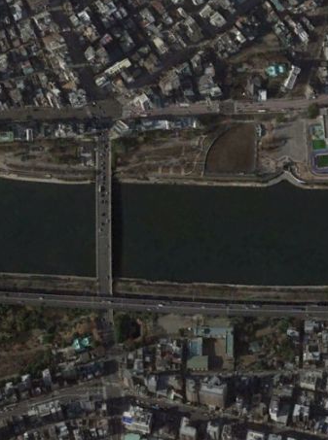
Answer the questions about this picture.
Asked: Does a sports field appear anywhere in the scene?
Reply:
Yes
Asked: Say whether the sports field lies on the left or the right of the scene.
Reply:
right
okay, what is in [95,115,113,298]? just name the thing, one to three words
bridge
